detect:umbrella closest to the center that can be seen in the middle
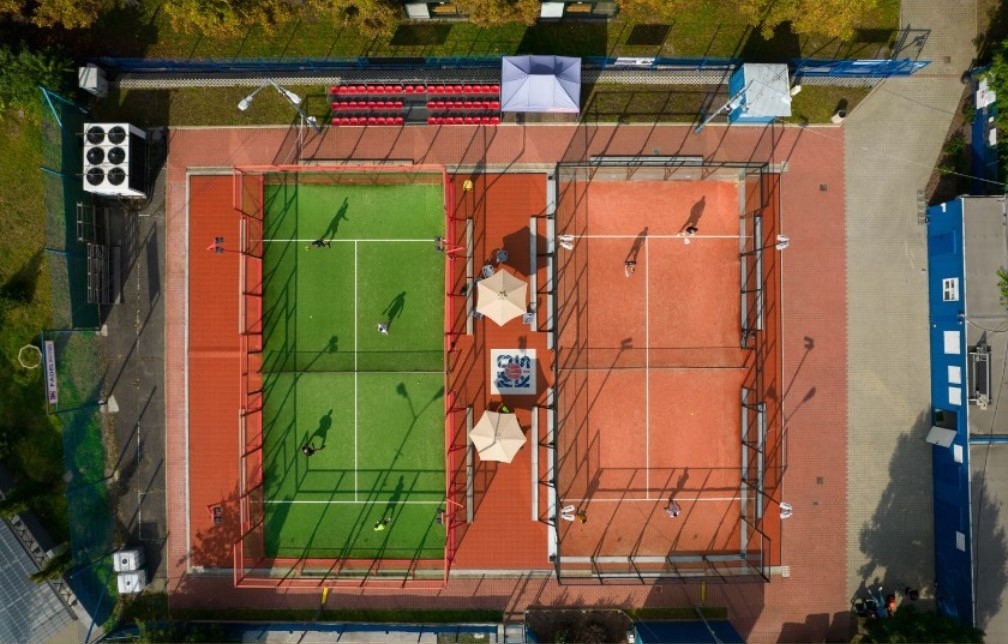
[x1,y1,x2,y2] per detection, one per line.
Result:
[476,267,528,325]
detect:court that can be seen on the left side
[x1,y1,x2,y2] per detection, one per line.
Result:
[228,157,473,592]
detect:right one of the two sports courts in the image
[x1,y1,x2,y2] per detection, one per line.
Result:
[530,155,774,590]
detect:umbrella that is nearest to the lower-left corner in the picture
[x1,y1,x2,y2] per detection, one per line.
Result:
[470,410,528,462]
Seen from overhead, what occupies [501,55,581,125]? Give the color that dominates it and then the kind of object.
white tent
